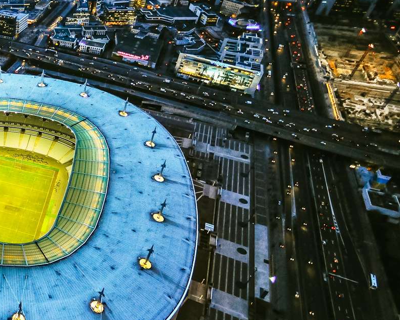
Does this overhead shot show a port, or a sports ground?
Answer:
sports ground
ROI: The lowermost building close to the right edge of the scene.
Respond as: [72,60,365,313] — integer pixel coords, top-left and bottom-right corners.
[359,185,400,218]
